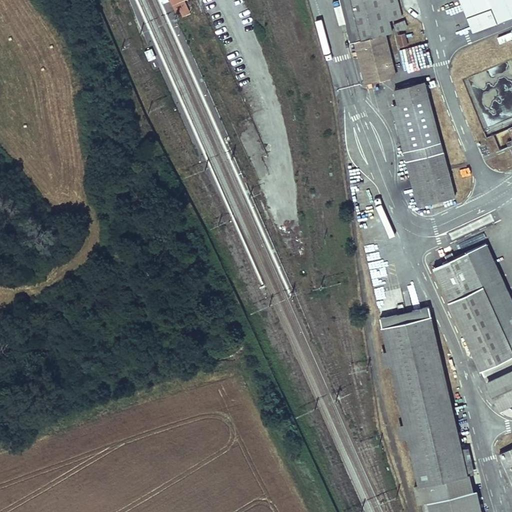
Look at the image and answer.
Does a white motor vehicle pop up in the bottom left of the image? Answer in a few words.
No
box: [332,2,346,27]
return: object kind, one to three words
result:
vehicle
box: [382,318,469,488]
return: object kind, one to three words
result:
building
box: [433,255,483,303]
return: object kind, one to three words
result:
building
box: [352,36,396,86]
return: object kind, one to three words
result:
shed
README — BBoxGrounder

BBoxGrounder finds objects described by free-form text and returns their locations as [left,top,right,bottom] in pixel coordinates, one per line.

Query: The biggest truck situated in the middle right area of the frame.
[374,198,396,240]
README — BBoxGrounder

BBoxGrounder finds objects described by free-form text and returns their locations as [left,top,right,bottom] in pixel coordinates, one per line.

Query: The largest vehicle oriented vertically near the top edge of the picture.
[316,16,333,60]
